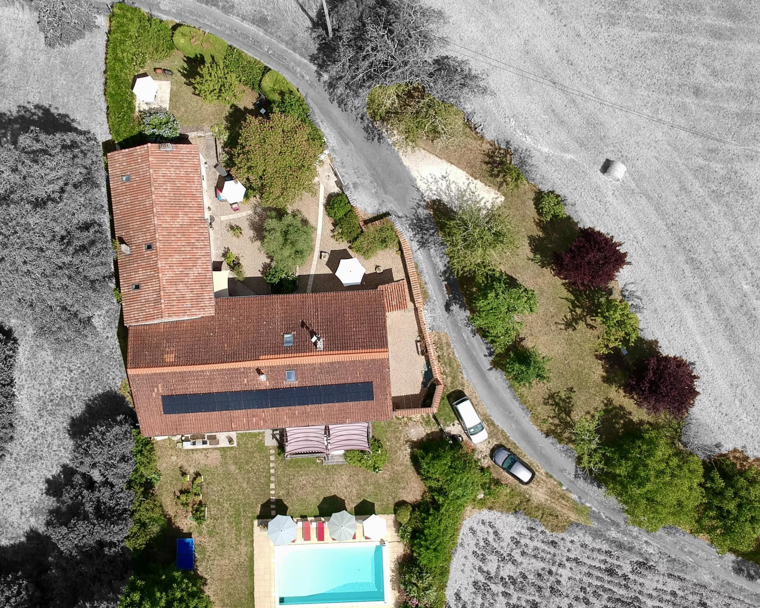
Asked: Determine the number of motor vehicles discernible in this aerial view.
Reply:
2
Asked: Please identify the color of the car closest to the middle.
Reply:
white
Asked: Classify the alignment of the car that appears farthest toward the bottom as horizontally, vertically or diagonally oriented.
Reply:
diagonally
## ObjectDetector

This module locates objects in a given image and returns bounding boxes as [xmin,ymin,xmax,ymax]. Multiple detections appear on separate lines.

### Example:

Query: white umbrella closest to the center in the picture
[335,257,367,287]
